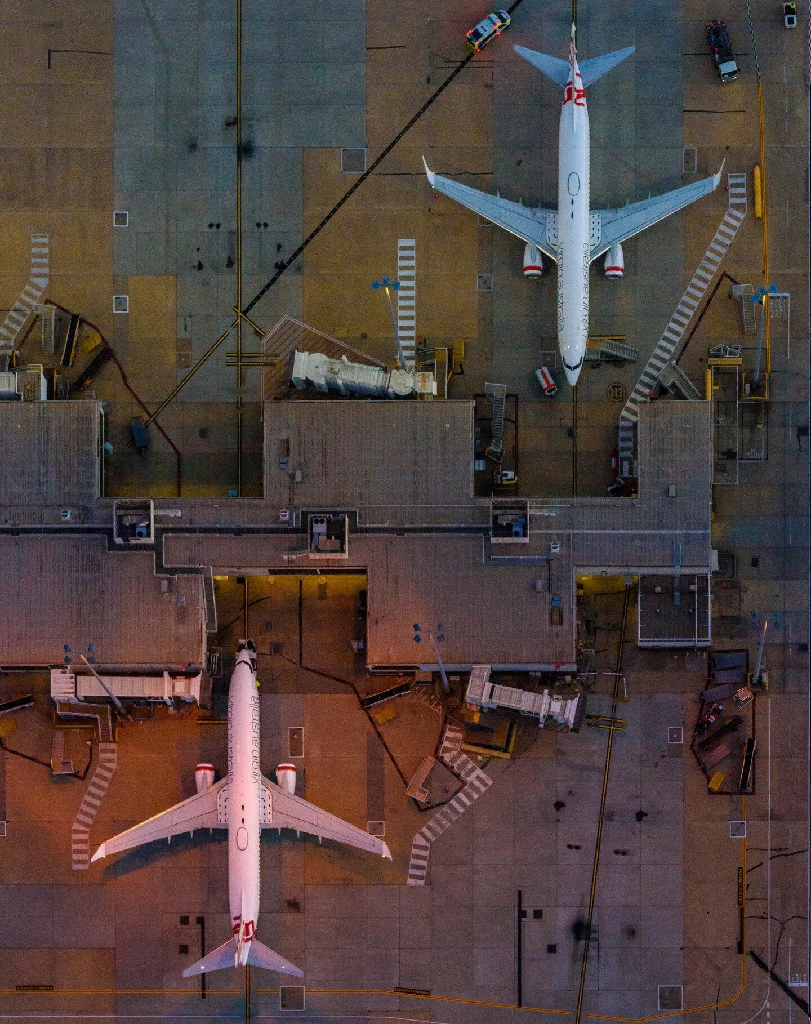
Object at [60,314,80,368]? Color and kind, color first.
black work vehicle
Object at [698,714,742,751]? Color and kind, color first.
black work vehicle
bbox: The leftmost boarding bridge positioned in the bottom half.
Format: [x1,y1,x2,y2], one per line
[51,666,214,711]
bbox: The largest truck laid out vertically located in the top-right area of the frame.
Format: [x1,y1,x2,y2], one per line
[705,19,737,82]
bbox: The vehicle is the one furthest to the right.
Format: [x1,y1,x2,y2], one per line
[784,2,797,29]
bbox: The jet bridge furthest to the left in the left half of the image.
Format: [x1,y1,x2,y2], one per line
[0,372,50,402]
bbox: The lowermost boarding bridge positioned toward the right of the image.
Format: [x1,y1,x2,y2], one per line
[466,665,588,731]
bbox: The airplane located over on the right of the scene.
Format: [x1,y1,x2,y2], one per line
[422,24,724,386]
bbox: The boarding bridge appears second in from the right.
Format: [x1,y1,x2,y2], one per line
[287,351,437,402]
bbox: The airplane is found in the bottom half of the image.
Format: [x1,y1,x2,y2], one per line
[88,648,390,976]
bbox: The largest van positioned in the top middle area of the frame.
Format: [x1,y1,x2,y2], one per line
[466,11,512,56]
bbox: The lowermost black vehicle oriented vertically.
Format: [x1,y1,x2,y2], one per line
[736,738,754,789]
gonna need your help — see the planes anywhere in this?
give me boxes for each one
[422,24,724,386]
[88,648,390,976]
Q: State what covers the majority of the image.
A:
paved ground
